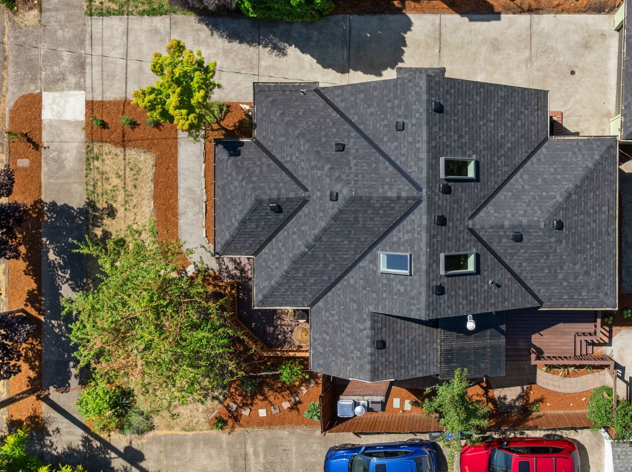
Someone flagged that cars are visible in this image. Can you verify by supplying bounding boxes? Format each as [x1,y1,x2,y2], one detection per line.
[461,437,580,472]
[324,440,440,472]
